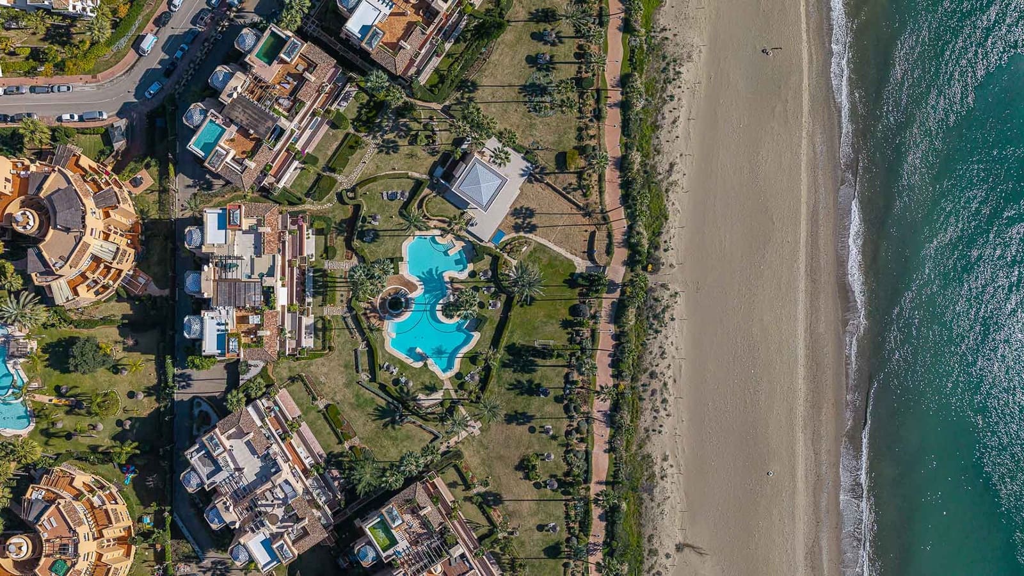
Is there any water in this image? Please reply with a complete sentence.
Yes, some water is visible.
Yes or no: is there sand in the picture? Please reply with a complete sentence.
Yes, some sand is visible.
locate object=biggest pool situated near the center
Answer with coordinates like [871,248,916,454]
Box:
[382,230,480,379]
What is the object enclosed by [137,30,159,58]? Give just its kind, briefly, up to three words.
vehicle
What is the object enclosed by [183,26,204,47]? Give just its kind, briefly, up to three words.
car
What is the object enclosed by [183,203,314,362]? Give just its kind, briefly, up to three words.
building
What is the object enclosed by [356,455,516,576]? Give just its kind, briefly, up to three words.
building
